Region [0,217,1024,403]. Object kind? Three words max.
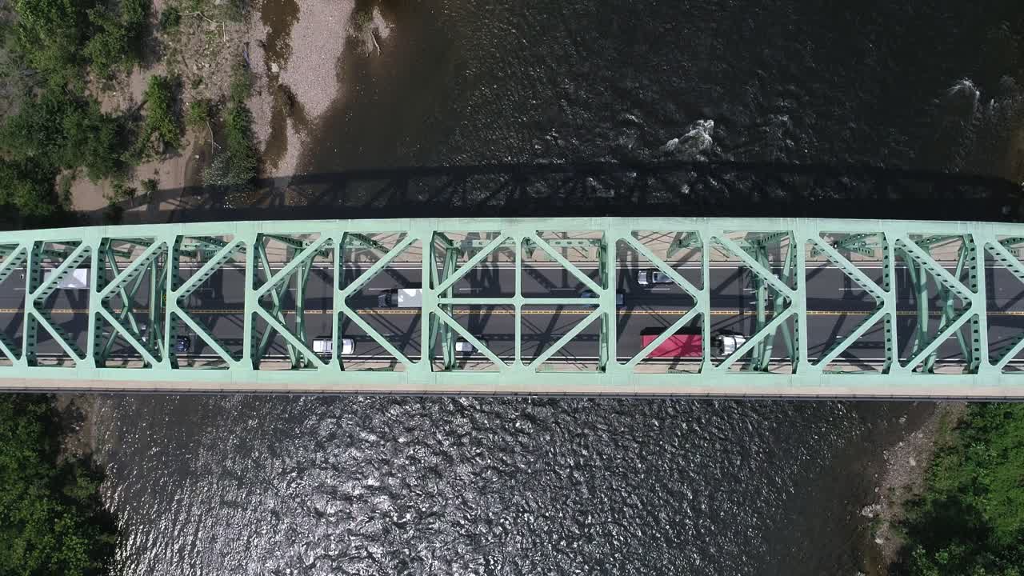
bridge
